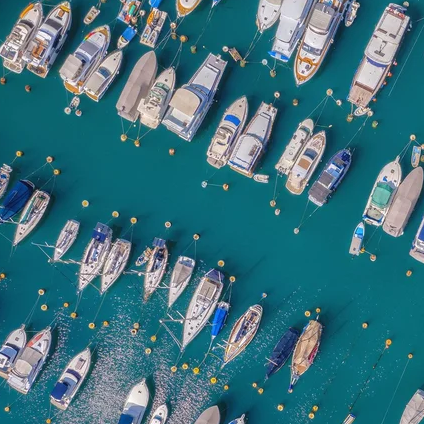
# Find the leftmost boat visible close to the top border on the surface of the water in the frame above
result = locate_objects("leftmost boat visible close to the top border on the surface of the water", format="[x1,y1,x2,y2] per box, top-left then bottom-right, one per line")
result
[2,0,44,73]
